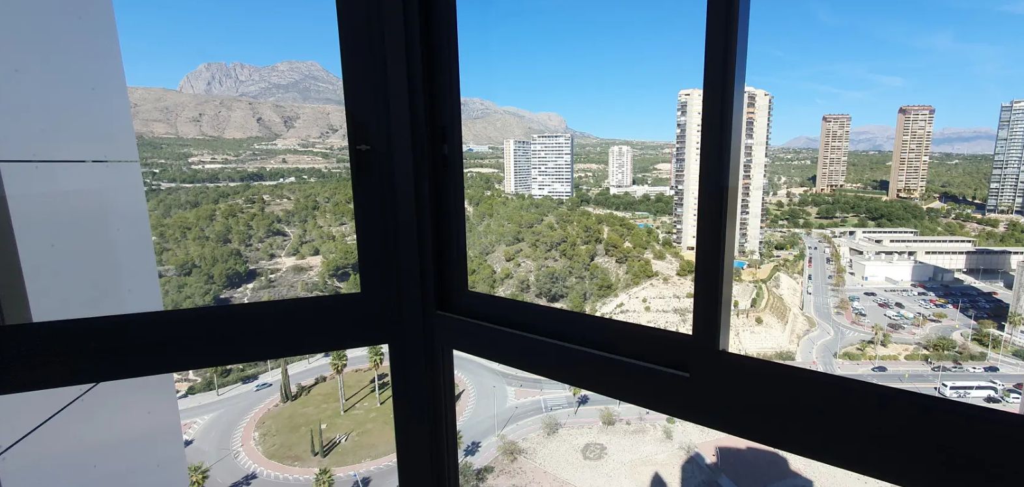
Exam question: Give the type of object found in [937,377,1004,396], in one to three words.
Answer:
vehicle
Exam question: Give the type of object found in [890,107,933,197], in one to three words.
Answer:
building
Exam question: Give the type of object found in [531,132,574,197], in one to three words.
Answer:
building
